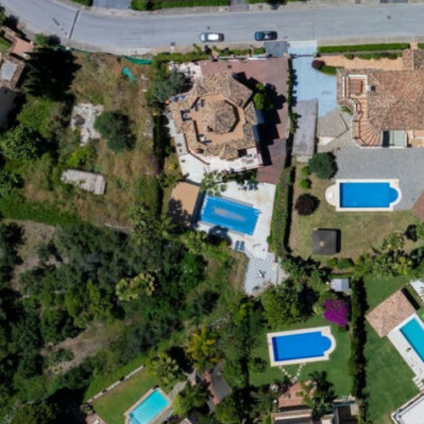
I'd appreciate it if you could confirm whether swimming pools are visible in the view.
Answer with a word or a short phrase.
Yes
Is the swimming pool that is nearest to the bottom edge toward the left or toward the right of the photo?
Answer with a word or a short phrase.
left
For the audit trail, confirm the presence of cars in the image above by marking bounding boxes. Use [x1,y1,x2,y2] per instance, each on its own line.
[200,33,224,44]
[255,30,277,41]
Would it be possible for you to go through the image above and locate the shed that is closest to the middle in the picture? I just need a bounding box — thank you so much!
[169,182,204,217]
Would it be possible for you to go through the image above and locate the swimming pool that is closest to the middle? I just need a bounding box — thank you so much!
[199,194,261,238]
